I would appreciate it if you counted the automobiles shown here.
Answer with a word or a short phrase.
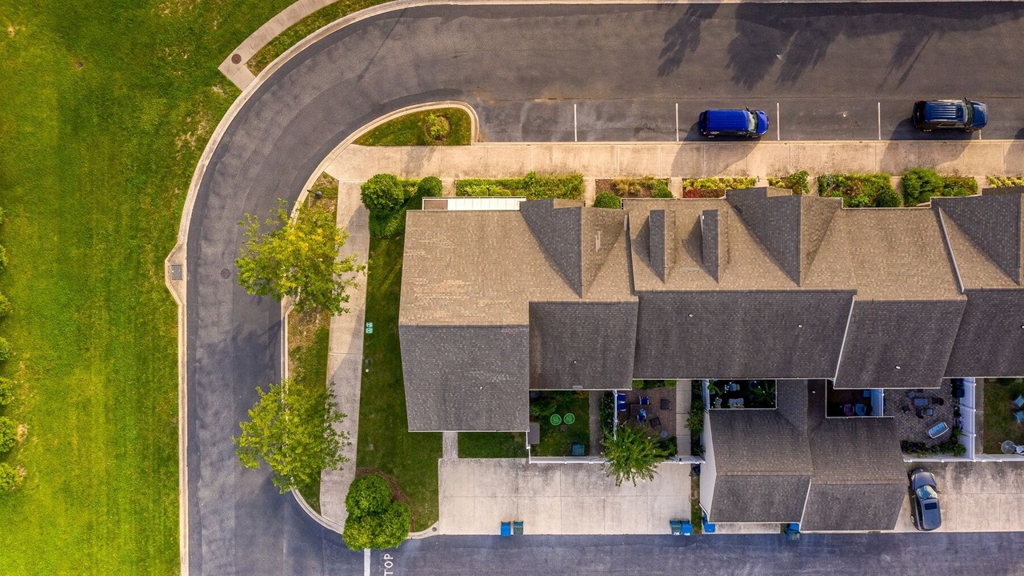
3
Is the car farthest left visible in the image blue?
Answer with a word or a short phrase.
Yes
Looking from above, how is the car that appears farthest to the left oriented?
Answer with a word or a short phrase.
from left to right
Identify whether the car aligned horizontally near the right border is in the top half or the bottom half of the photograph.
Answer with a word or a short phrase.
top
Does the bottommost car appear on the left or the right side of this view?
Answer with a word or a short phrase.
right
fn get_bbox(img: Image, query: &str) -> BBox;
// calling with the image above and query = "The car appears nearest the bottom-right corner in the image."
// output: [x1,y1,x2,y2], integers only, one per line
[905,467,944,536]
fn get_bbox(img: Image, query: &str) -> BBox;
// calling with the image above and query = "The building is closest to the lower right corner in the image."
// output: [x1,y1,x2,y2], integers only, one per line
[797,415,905,531]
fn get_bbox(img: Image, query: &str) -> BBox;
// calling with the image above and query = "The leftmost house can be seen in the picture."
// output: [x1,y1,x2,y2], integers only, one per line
[397,196,529,434]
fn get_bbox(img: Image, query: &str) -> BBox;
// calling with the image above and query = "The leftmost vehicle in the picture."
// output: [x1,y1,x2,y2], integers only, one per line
[698,106,769,140]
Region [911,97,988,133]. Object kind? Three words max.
car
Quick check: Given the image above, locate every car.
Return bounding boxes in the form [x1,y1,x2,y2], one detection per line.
[698,106,769,140]
[911,97,988,133]
[905,467,944,536]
